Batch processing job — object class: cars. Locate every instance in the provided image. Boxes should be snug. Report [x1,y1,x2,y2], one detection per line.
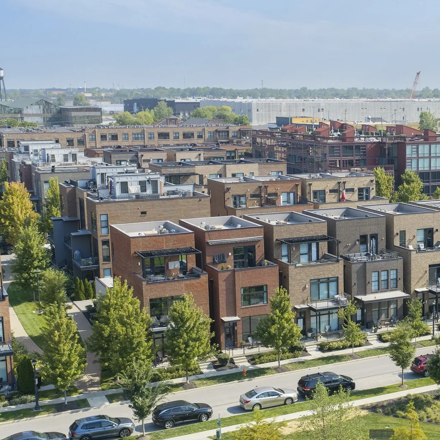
[298,370,359,399]
[239,387,298,410]
[151,400,213,429]
[69,413,135,440]
[0,428,66,440]
[409,353,440,377]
